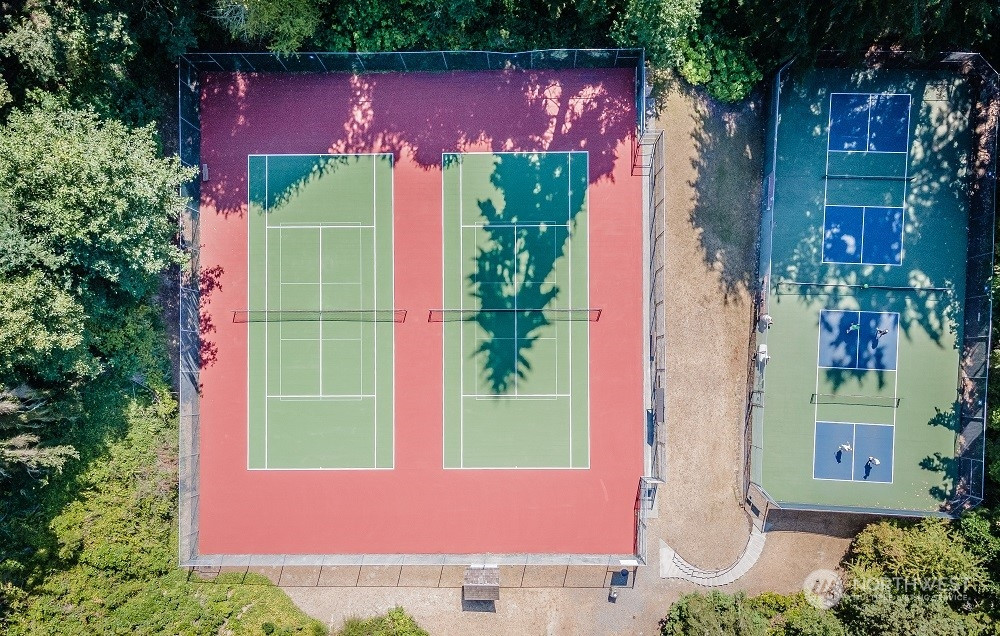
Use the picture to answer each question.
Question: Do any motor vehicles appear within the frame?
No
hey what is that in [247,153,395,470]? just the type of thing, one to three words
tennis court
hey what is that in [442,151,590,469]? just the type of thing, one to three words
tennis court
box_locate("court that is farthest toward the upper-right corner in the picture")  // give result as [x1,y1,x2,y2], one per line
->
[822,93,911,266]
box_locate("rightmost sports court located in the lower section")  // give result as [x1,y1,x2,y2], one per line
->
[813,309,899,484]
